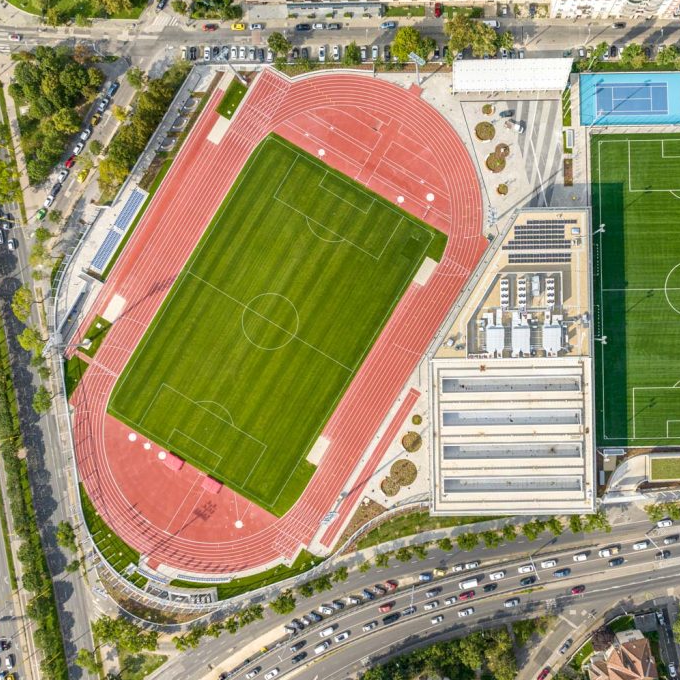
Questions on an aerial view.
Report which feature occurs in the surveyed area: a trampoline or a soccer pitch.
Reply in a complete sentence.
There is a soccer pitch in the scene.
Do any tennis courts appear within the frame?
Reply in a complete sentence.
Yes, you can see a tennis court in this photo.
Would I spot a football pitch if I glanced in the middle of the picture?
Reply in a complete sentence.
Yes, a football pitch can be seen in the middle of the picture.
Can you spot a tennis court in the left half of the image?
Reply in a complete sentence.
No, I see no tennis court in the left half of the image.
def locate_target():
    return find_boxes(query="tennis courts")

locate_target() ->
[580,71,680,125]
[597,82,668,114]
